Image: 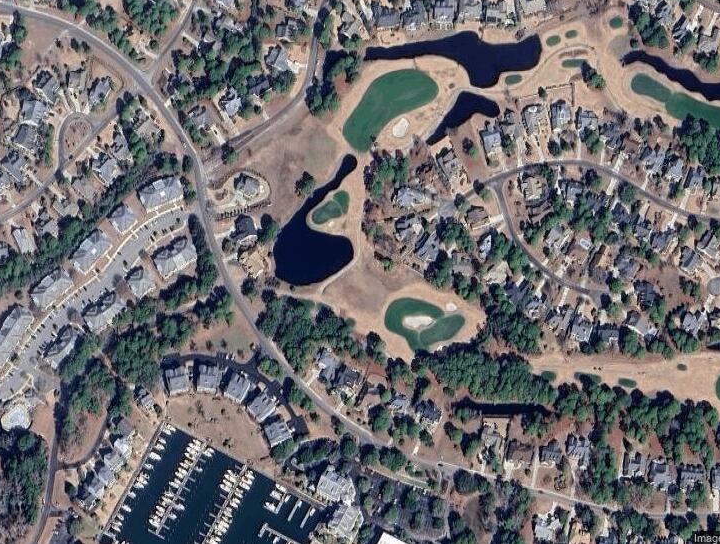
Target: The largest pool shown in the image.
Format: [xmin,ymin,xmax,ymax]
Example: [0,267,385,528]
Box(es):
[4,404,28,427]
